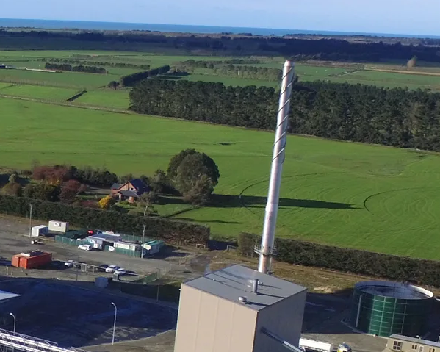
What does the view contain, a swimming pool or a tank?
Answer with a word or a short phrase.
tank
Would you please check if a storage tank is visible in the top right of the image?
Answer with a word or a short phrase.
No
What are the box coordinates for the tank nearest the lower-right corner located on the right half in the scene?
[342,280,439,338]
